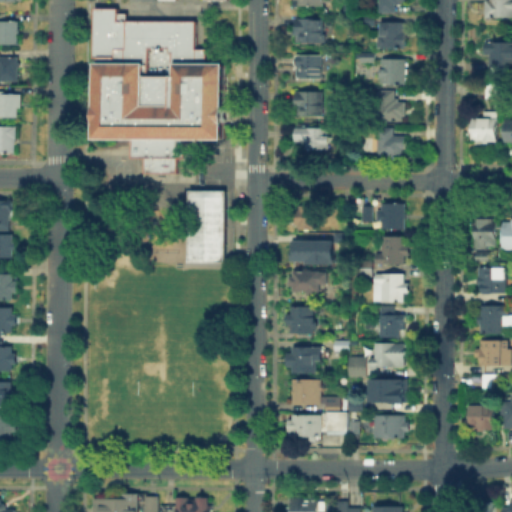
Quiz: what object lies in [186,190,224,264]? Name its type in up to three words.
building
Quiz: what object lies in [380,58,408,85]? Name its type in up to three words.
house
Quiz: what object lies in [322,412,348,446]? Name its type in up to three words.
building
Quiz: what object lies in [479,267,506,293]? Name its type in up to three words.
house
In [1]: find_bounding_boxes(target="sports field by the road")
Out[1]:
[88,257,229,447]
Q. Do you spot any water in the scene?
No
